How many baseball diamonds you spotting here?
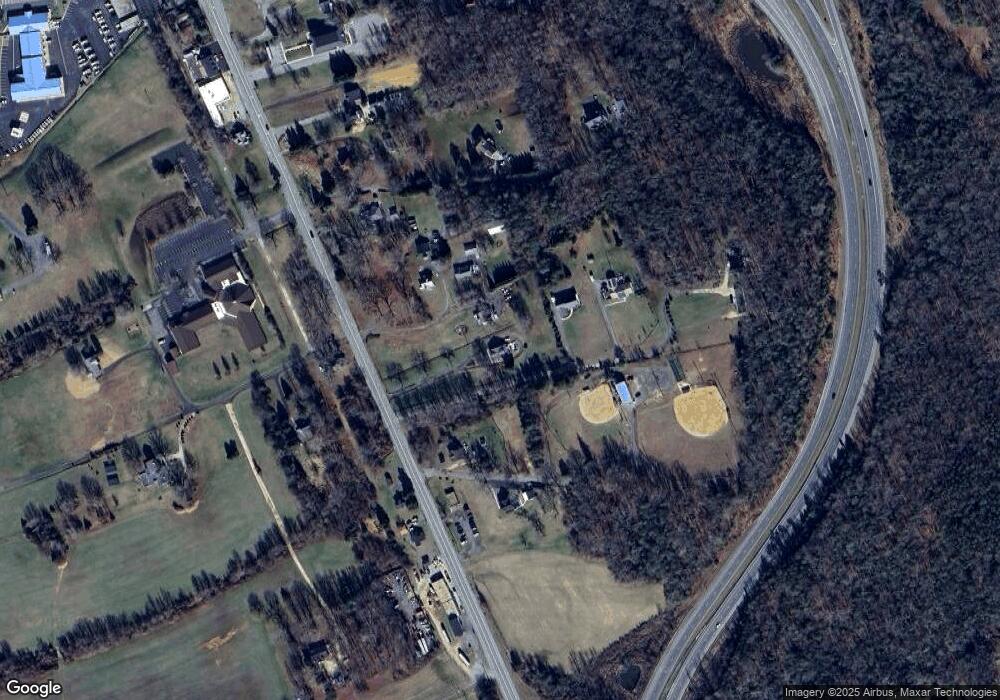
2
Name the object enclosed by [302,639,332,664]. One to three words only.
house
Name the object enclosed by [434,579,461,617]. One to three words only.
building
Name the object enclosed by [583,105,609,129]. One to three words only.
house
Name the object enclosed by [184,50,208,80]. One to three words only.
building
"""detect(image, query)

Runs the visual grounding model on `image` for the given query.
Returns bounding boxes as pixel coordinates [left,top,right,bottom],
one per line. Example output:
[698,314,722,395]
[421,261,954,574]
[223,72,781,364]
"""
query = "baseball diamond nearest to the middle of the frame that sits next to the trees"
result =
[546,382,628,452]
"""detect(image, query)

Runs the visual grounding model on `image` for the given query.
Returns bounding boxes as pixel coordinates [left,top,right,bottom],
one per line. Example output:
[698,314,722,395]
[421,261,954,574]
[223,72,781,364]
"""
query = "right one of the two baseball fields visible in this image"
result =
[634,384,737,473]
